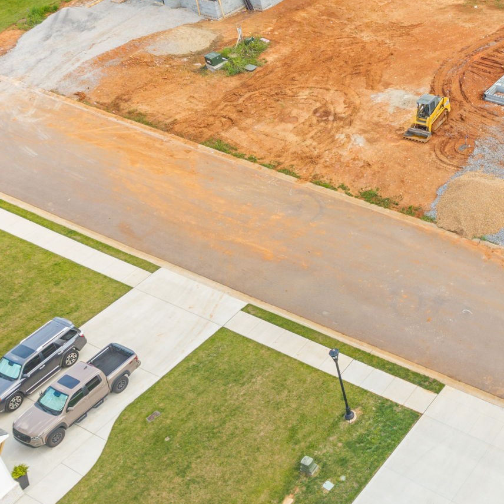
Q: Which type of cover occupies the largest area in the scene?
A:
paved ground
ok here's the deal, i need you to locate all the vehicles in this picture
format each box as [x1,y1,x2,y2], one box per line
[404,95,450,140]
[5,346,133,456]
[0,317,88,418]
